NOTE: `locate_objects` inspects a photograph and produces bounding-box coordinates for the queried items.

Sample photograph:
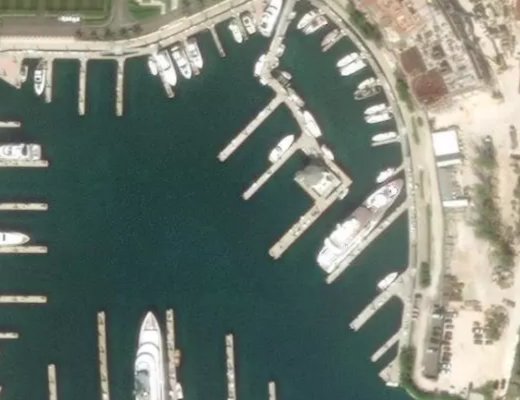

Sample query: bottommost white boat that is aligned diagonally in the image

[376,273,398,291]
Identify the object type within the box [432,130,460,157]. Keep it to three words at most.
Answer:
building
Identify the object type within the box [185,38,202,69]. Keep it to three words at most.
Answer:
boat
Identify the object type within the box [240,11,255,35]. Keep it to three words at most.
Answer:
boat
